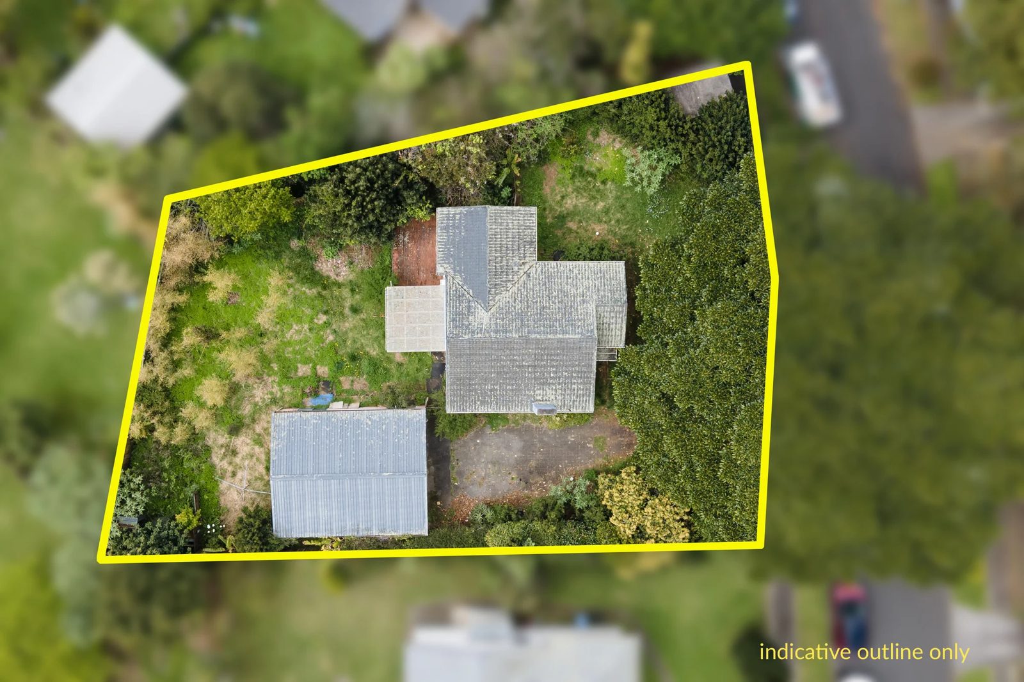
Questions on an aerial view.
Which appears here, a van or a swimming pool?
van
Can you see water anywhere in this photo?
No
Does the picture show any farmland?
No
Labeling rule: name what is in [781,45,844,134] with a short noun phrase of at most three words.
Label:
van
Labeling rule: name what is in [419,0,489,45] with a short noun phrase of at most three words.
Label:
house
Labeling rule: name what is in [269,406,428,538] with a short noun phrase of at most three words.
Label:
building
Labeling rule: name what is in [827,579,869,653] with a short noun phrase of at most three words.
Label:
car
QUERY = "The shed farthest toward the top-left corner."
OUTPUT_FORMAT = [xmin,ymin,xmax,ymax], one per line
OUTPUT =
[53,23,189,156]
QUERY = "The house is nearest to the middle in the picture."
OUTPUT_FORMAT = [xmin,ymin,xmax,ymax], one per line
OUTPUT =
[435,201,631,415]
